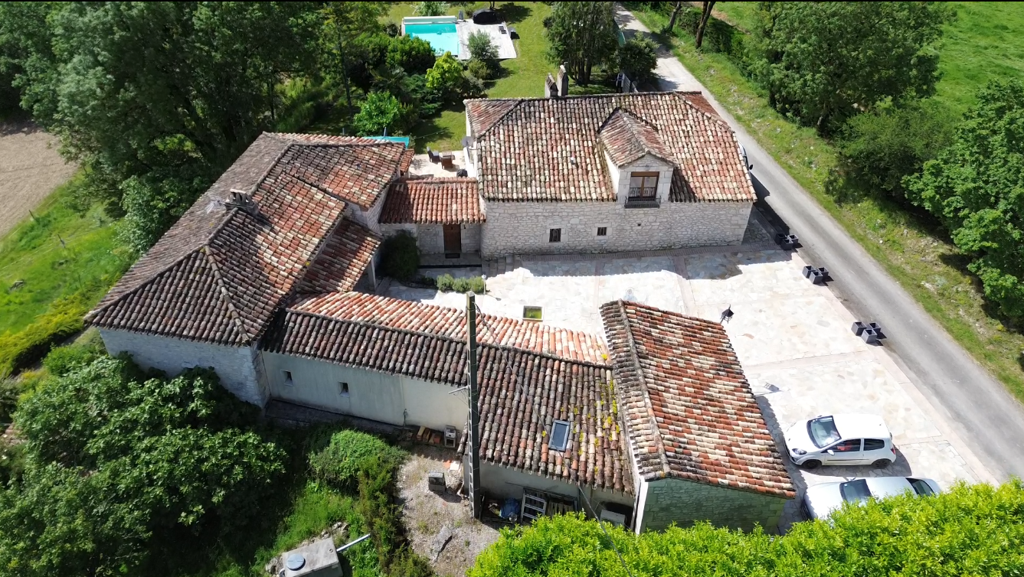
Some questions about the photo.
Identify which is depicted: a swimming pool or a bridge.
swimming pool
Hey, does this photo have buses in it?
No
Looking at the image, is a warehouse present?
No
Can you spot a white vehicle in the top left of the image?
No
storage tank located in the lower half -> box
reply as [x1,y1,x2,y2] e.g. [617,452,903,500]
[282,536,345,577]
